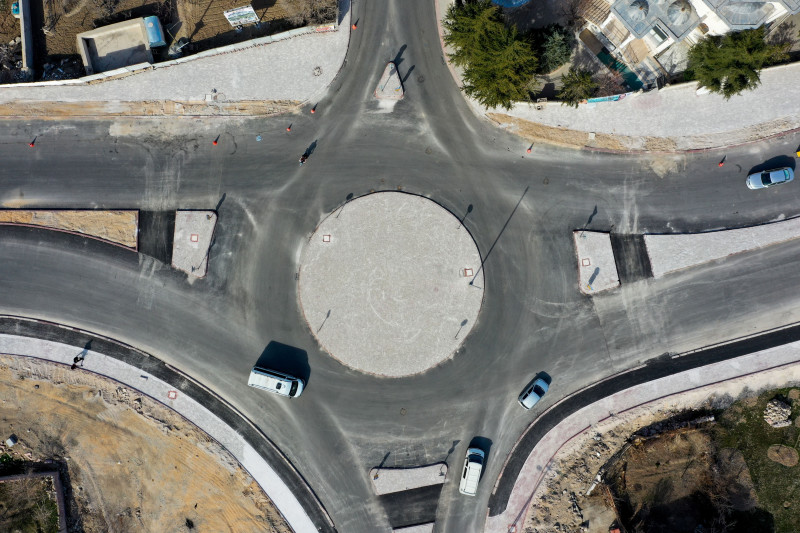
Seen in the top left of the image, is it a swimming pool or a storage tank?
storage tank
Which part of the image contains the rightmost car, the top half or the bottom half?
top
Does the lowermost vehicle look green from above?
No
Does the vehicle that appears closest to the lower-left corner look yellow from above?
No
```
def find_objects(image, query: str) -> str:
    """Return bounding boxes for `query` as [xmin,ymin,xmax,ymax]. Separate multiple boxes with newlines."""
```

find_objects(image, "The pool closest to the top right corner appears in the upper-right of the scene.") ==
[577,25,649,91]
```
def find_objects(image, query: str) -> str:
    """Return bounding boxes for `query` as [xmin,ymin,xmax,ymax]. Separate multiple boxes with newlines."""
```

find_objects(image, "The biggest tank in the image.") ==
[77,18,159,84]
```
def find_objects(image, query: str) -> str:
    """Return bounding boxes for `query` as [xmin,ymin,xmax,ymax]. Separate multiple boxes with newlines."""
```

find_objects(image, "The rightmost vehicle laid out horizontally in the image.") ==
[745,166,795,191]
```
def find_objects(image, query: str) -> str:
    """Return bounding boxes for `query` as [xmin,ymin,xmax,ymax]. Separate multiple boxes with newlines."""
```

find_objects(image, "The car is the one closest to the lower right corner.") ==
[517,377,549,410]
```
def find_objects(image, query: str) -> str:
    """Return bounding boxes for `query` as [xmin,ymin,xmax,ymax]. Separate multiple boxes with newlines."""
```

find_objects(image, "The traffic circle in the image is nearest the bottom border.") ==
[298,191,484,377]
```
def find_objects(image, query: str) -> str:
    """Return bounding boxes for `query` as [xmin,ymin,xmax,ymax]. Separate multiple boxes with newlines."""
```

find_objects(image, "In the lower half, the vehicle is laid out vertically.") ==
[459,448,484,494]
